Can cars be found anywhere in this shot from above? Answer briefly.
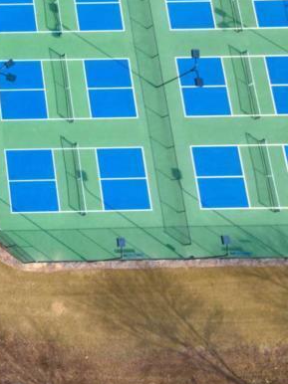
No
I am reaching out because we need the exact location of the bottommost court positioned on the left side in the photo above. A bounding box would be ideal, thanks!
[6,147,153,212]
